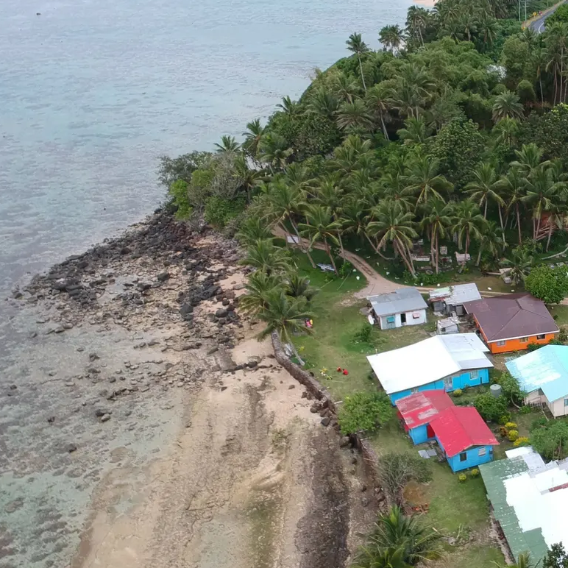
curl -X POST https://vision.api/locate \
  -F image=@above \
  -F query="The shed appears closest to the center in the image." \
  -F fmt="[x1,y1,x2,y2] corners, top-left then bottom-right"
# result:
[366,282,424,329]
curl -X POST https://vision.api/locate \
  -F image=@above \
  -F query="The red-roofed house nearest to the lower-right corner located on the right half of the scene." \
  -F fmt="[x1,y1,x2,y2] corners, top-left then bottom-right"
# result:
[394,387,498,473]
